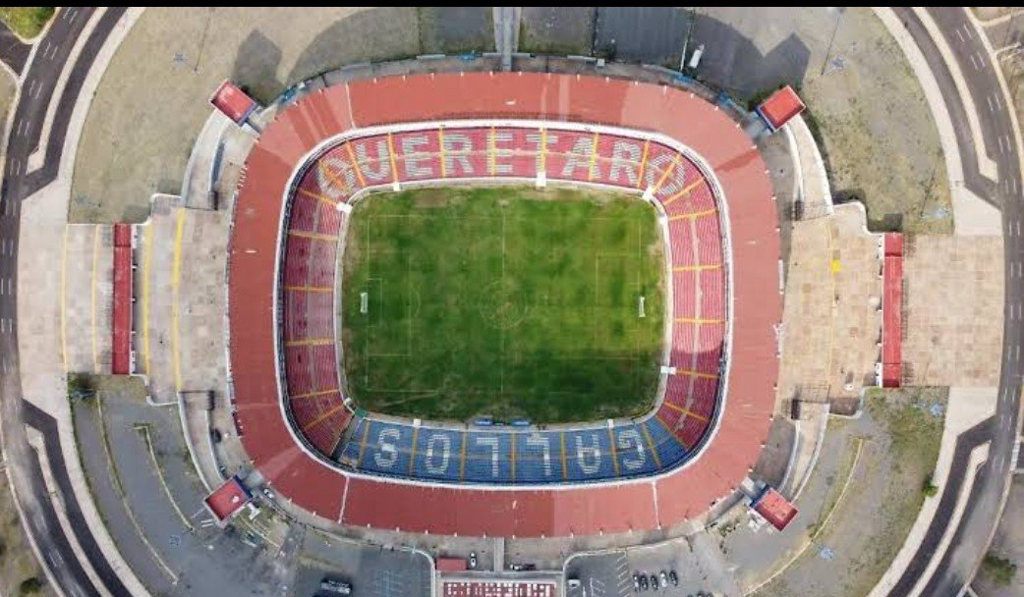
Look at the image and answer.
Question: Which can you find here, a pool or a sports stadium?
sports stadium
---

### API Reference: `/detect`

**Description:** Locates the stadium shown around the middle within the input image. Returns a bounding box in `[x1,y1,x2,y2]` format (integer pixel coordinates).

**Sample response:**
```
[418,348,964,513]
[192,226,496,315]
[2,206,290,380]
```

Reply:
[225,69,786,540]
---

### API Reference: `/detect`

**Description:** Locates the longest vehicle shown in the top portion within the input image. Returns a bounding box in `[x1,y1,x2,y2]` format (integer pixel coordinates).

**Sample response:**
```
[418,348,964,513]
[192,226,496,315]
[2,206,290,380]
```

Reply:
[688,47,701,67]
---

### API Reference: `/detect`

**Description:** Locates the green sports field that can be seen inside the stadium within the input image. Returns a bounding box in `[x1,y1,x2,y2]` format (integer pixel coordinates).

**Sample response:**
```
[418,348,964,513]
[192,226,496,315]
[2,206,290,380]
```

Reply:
[337,179,671,430]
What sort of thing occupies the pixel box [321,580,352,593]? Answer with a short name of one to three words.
vehicle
